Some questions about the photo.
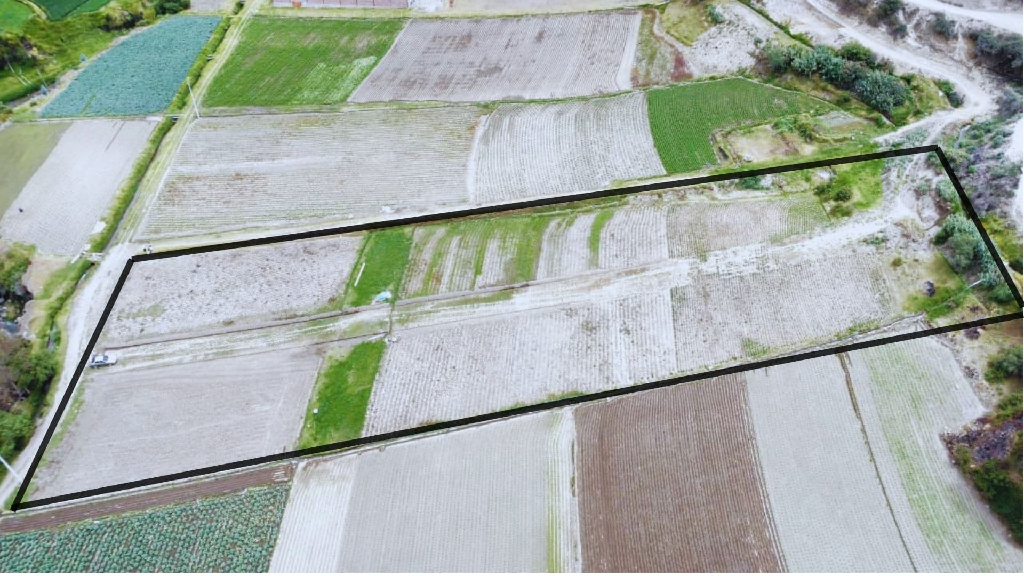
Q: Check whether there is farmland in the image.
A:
Yes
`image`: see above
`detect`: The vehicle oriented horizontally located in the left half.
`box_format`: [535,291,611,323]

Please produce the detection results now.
[88,355,117,368]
